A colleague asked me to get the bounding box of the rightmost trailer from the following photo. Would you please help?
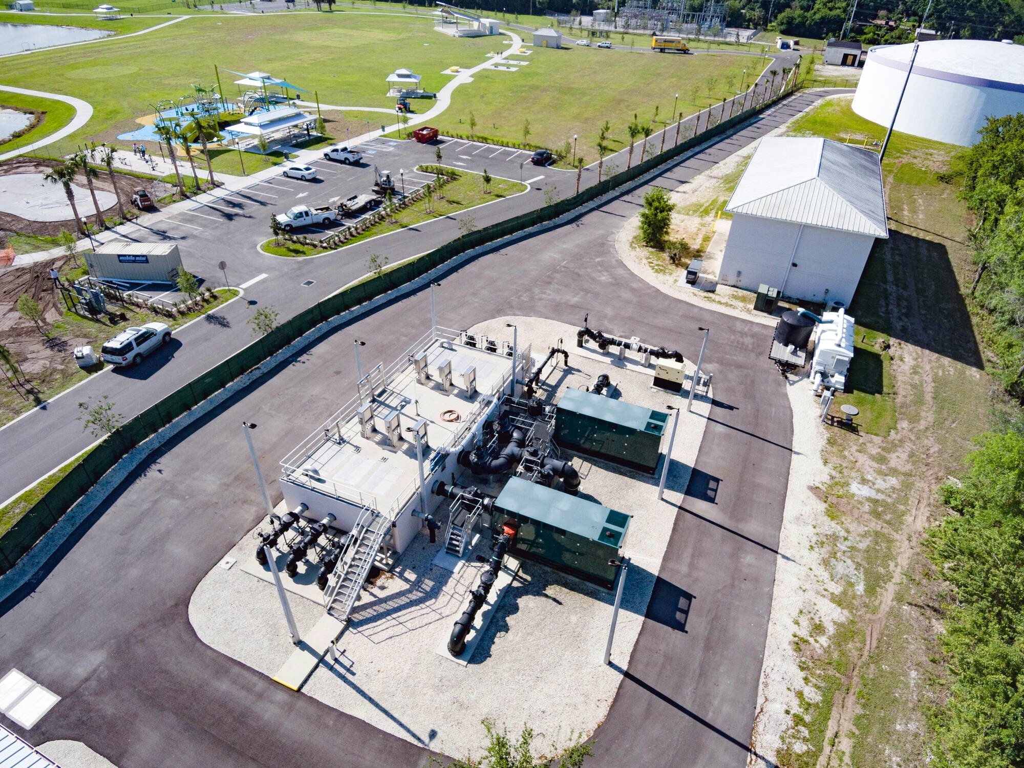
[768,325,812,380]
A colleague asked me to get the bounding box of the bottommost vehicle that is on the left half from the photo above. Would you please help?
[103,323,178,363]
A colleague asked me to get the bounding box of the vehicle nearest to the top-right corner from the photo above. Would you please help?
[655,35,692,54]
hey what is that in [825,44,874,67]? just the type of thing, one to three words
shed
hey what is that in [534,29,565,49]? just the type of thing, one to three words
building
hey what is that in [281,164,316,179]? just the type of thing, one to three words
car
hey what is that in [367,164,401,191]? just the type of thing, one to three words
work vehicle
